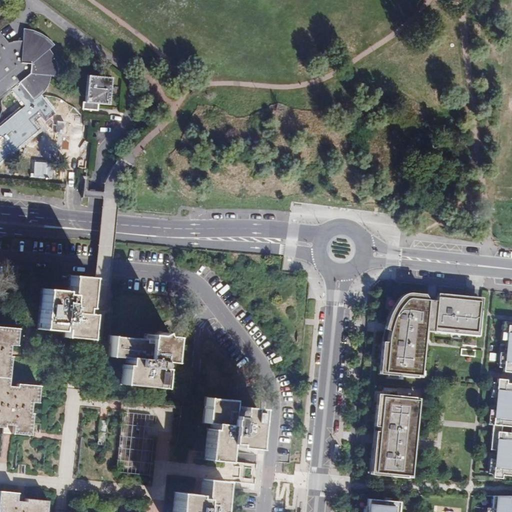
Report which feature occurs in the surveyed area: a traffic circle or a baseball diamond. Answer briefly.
traffic circle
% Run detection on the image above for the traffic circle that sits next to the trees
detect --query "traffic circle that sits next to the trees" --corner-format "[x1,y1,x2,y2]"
[286,219,399,292]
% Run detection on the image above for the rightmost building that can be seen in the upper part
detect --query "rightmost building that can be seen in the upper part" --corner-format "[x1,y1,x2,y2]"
[81,76,114,111]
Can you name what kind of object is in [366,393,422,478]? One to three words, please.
building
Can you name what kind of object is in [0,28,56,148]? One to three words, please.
building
